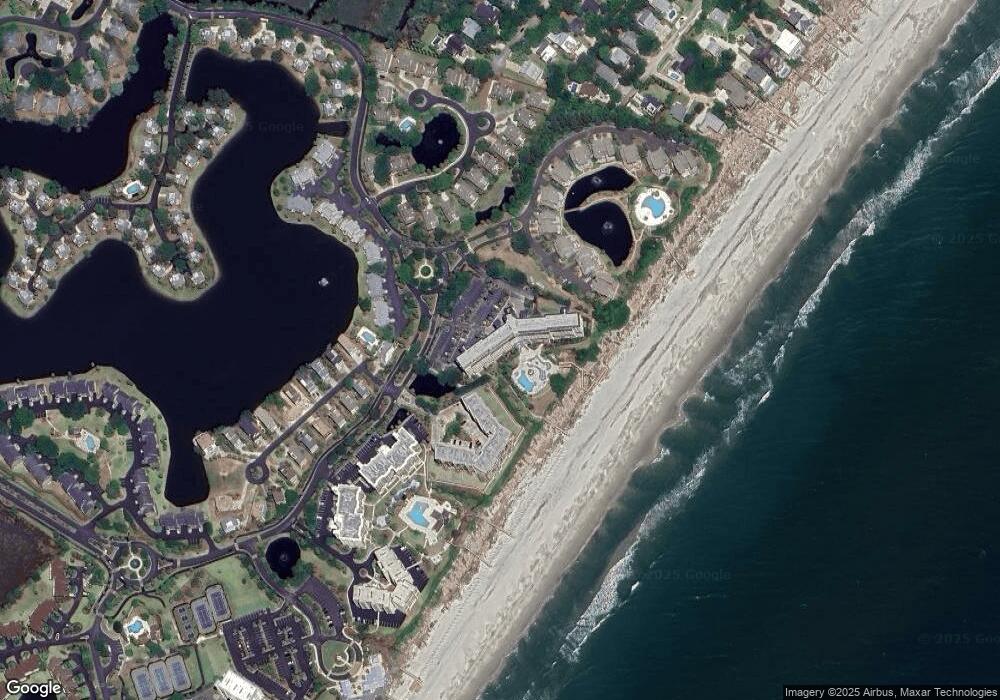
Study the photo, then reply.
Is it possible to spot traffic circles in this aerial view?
Yes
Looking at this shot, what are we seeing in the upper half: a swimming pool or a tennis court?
swimming pool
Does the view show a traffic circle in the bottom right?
No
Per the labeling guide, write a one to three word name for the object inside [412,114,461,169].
pond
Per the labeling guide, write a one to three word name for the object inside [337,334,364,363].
house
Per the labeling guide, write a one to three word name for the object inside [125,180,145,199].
swimming pool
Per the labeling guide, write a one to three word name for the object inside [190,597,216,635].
tennis court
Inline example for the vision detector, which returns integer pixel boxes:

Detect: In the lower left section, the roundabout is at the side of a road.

[111,539,159,587]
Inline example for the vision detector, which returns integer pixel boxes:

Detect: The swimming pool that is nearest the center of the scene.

[510,342,562,397]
